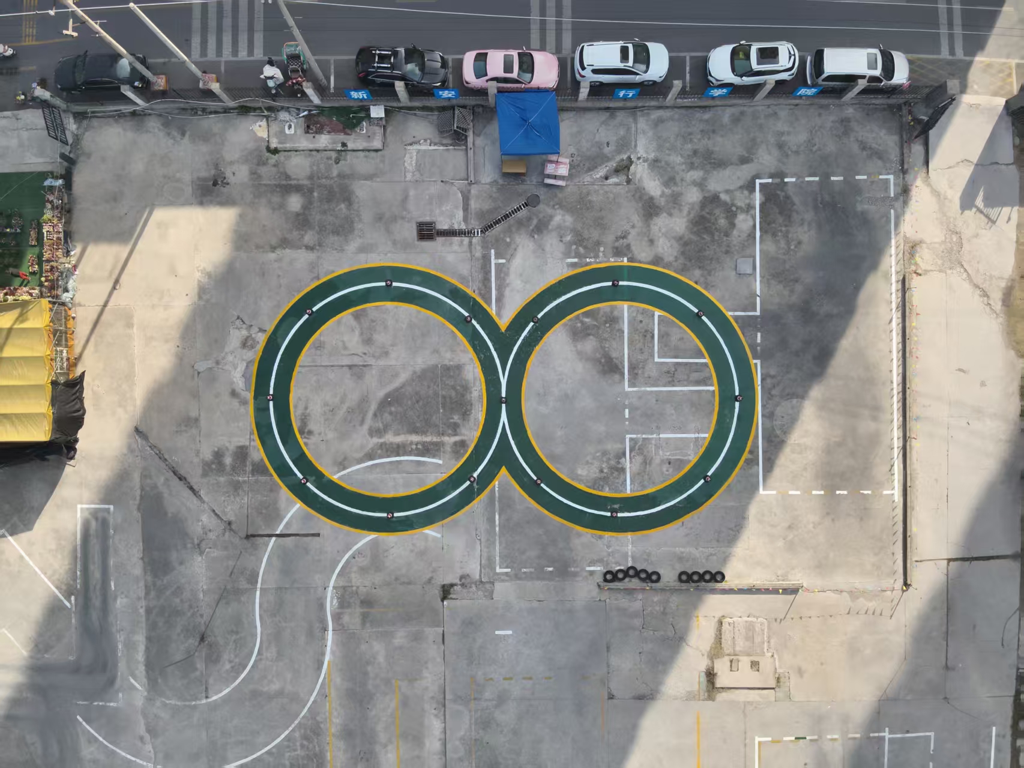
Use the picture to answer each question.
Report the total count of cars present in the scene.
6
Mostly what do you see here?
paved ground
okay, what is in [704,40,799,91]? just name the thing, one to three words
car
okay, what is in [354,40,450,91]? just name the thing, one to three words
car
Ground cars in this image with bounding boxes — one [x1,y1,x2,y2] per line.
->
[55,47,152,95]
[704,40,799,91]
[804,44,906,94]
[354,40,450,91]
[463,44,560,94]
[574,37,668,89]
